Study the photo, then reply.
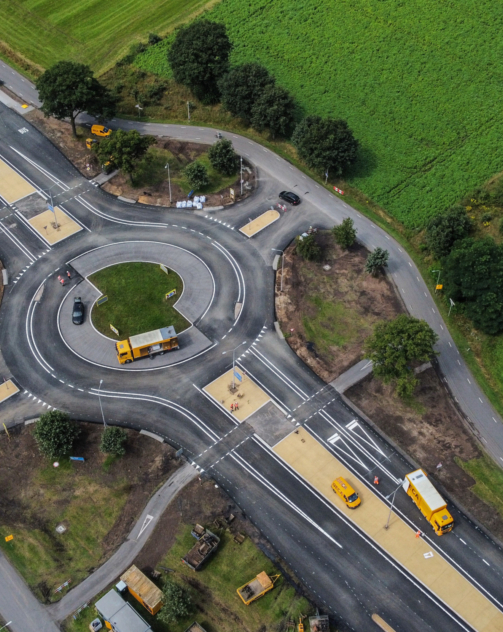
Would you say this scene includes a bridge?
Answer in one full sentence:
No, no bridge is visible in the view.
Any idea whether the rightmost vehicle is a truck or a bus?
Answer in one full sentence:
It looks like the rightmost vehicle is a truck.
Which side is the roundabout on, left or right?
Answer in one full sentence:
It is on the left.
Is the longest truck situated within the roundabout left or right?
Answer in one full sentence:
The longest truck situated within the roundabout is on the left side of the image.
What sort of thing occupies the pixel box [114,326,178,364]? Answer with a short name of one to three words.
truck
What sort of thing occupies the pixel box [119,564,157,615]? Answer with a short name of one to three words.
shed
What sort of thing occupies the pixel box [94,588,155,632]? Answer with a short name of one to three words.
building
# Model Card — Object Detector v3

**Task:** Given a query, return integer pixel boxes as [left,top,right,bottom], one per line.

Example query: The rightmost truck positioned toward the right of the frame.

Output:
[396,466,459,536]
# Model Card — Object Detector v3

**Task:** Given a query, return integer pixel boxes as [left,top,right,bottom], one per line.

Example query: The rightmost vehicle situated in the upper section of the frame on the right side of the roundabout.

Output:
[278,188,302,205]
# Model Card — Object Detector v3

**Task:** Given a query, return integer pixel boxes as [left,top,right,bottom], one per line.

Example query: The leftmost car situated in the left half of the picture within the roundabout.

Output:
[70,297,85,322]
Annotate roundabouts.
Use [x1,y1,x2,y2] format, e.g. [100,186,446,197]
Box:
[0,189,269,444]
